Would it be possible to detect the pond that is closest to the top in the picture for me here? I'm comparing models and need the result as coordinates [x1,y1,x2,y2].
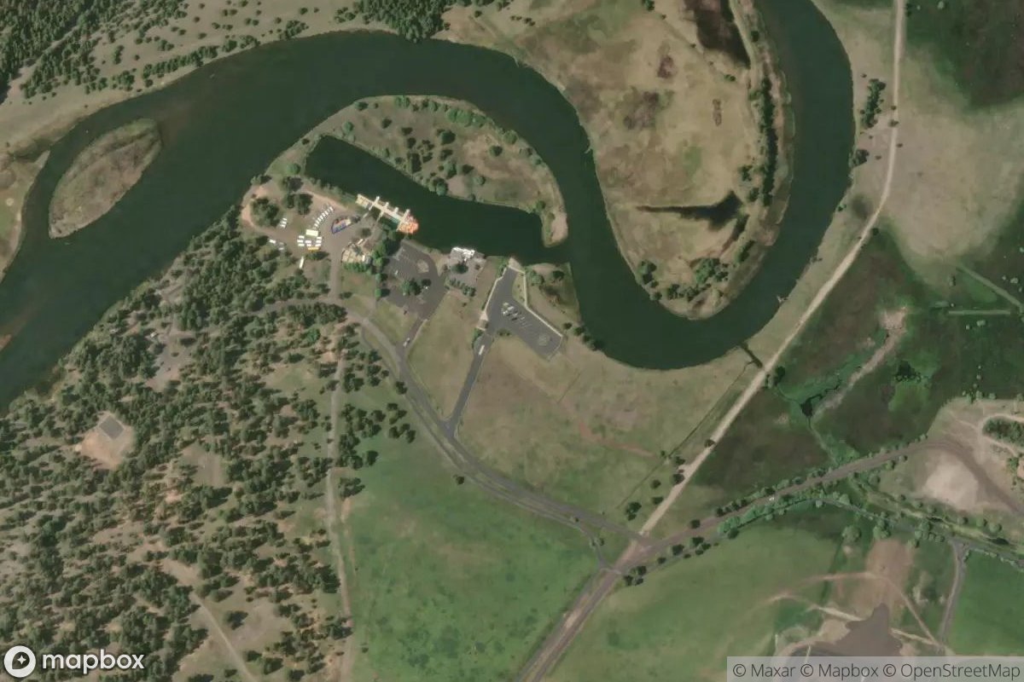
[693,0,750,68]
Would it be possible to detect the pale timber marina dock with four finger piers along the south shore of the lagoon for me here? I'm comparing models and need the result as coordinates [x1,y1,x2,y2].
[355,195,409,231]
